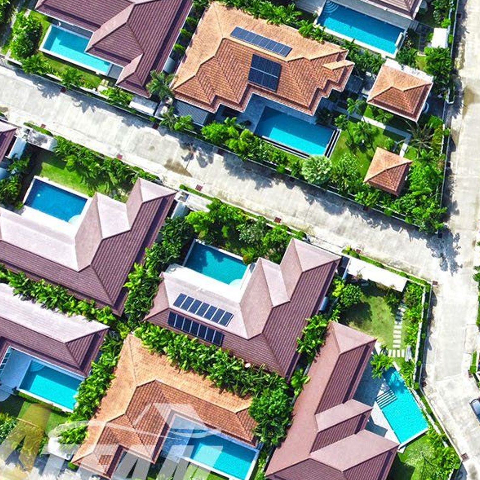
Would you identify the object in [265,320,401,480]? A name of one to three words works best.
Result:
house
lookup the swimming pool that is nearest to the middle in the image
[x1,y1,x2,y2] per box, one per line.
[180,238,253,288]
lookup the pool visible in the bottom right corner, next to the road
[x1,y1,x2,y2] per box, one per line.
[377,363,426,447]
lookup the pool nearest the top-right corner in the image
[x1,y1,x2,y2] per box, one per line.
[313,0,410,59]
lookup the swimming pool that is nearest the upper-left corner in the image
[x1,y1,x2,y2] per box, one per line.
[38,21,115,79]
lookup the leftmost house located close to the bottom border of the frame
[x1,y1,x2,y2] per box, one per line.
[72,330,276,480]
